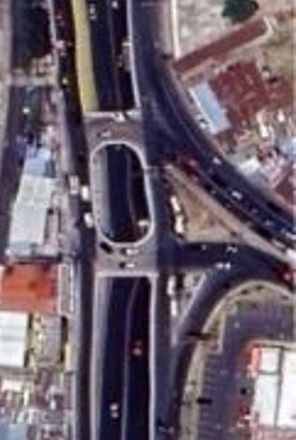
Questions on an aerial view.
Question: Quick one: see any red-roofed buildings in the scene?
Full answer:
Yes, I can see a red-roofed building in this picture.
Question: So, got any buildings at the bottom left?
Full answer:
Yes, you'll find a building at the bottom left.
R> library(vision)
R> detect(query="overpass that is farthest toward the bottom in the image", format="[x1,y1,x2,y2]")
[91,223,157,277]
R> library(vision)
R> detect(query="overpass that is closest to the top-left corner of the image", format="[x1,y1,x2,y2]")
[83,111,150,166]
